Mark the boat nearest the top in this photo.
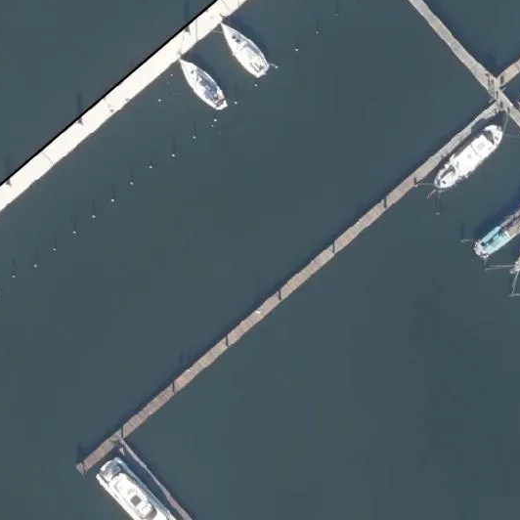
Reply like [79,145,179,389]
[221,23,270,77]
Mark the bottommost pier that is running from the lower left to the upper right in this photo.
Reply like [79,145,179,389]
[81,127,468,470]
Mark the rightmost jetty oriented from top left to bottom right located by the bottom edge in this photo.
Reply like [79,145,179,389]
[121,441,195,520]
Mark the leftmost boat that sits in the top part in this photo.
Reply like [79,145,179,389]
[180,60,227,111]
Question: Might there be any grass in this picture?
No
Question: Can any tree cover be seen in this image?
No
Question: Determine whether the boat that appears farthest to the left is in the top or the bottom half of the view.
bottom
